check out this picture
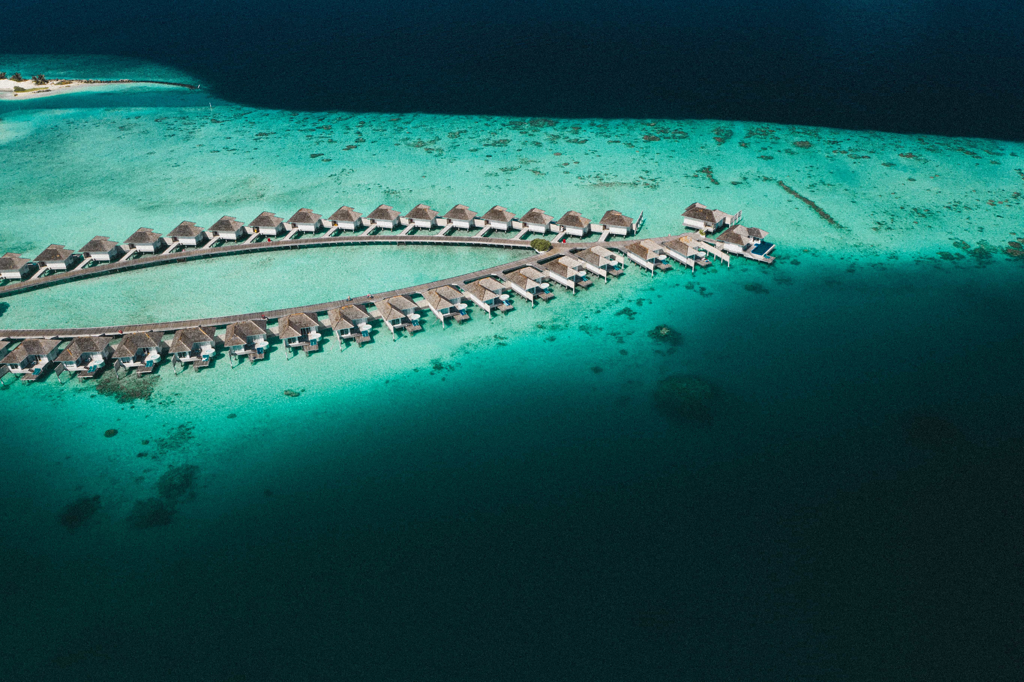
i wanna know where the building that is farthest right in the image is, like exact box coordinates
[716,223,775,271]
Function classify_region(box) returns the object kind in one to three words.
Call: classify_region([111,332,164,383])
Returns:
house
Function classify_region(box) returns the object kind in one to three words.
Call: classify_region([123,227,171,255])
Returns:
house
